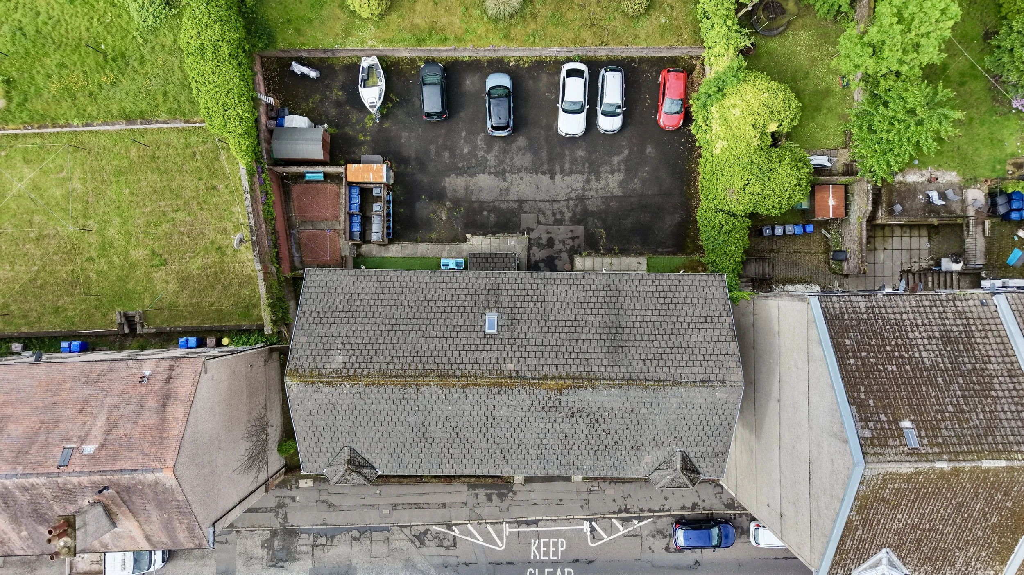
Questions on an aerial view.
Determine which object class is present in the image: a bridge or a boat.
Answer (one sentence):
There is a boat in the scene.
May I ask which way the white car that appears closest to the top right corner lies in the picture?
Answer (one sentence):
What the image shows is the white car that appears closest to the top right corner lying from top to bottom.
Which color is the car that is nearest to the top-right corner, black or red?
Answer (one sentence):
In this view, the car that is nearest to the top-right corner is red.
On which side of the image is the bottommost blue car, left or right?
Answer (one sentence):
It is on the right.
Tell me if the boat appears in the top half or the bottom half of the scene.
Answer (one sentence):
You can find the boat in the top half.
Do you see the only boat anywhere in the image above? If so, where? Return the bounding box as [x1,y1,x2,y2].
[358,52,384,111]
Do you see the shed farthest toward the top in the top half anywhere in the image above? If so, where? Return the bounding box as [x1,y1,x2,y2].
[272,127,332,163]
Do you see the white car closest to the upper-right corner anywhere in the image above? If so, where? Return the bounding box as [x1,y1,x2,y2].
[595,66,629,135]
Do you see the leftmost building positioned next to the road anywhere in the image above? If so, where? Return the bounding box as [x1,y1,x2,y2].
[0,345,282,562]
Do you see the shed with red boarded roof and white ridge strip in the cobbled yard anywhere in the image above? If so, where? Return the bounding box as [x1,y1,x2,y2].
[803,184,845,220]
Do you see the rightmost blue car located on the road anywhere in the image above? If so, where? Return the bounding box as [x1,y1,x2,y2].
[671,516,736,553]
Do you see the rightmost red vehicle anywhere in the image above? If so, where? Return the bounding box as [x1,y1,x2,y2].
[656,67,688,133]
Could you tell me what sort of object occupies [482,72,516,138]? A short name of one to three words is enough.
car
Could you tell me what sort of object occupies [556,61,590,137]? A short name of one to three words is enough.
car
